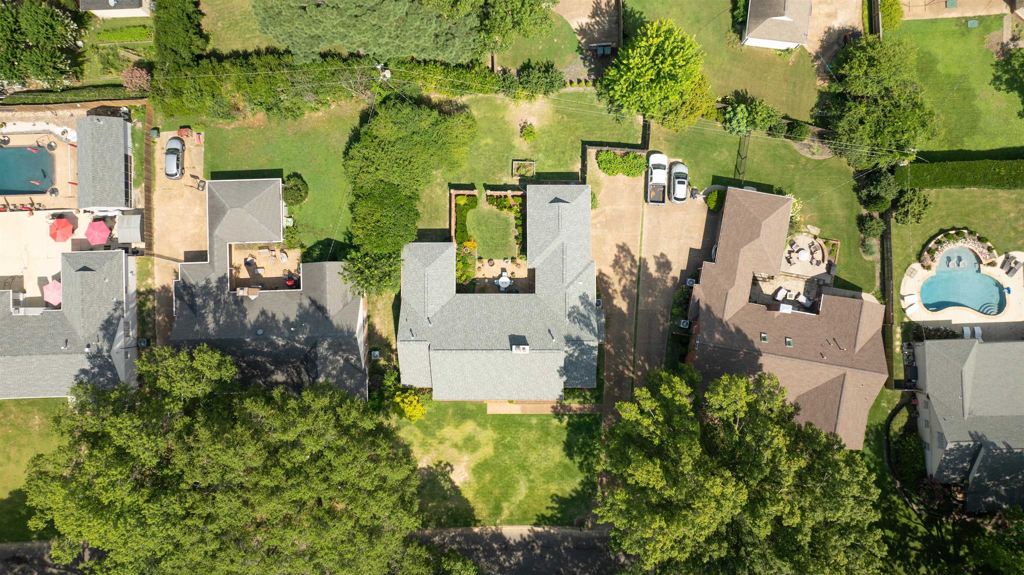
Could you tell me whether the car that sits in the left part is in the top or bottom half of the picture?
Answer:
top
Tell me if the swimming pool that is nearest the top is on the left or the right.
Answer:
left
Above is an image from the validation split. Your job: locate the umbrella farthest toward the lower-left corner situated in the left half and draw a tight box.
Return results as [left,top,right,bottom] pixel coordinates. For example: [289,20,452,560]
[44,279,61,306]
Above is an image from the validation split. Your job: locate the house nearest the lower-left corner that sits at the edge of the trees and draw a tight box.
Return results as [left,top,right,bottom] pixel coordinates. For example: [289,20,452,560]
[0,250,137,399]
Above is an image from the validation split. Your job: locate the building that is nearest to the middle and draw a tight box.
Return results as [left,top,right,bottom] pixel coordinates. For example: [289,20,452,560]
[396,185,605,400]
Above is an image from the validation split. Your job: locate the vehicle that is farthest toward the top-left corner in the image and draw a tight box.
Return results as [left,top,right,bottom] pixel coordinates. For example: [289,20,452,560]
[161,138,184,179]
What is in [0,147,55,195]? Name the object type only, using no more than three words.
swimming pool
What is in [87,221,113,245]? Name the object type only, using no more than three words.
umbrella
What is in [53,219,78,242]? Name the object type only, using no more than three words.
umbrella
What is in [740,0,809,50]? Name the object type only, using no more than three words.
house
